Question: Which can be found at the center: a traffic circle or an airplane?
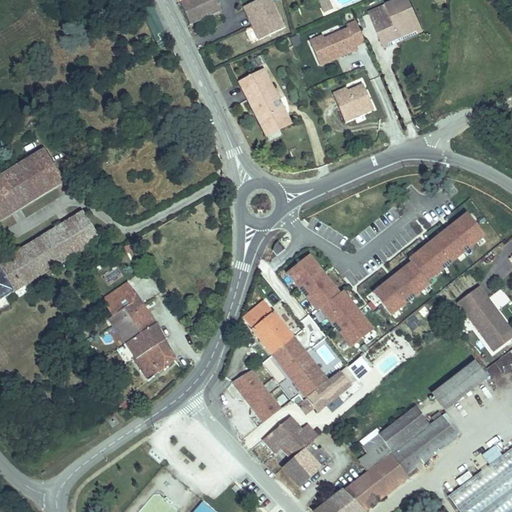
traffic circle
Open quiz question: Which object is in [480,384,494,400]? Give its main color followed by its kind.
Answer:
white vehicle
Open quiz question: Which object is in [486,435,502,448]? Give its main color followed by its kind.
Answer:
white vehicle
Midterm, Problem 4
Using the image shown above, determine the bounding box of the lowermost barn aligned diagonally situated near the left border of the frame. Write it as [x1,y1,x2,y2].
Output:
[0,210,97,291]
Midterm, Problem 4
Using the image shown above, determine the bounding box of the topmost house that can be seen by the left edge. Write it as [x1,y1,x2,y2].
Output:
[0,148,62,220]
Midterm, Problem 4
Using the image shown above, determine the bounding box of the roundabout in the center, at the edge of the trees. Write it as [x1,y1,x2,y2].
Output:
[236,178,286,228]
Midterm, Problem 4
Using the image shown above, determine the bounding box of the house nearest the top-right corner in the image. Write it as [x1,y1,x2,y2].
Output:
[368,0,422,48]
